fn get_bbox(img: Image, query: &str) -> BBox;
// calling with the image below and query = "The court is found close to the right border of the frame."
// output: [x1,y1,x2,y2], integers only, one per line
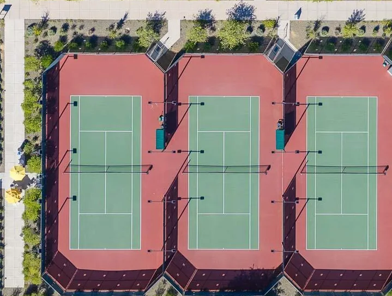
[283,54,392,291]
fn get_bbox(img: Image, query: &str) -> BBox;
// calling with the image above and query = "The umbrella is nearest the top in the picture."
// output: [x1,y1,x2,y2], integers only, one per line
[10,165,28,182]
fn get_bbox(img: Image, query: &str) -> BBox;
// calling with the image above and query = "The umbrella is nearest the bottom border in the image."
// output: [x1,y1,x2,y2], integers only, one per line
[7,186,21,202]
